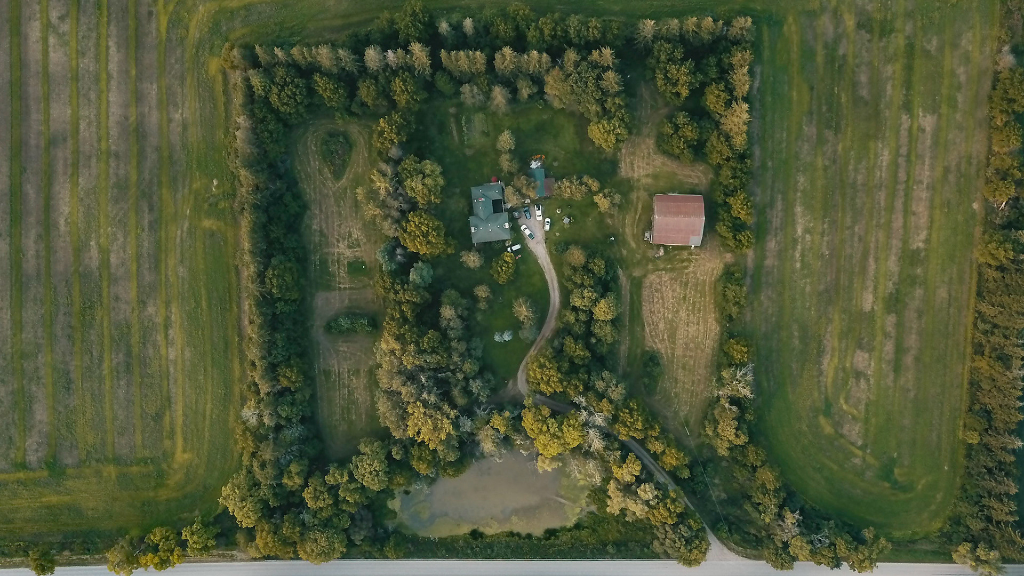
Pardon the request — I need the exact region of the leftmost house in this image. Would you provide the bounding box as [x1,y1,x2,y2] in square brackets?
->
[469,183,511,243]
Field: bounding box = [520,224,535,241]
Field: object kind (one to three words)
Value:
vehicle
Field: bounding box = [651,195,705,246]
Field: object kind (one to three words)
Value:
barn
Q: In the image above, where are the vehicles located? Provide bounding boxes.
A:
[507,243,521,252]
[544,218,551,231]
[523,206,531,220]
[535,203,542,221]
[520,224,535,241]
[512,209,520,219]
